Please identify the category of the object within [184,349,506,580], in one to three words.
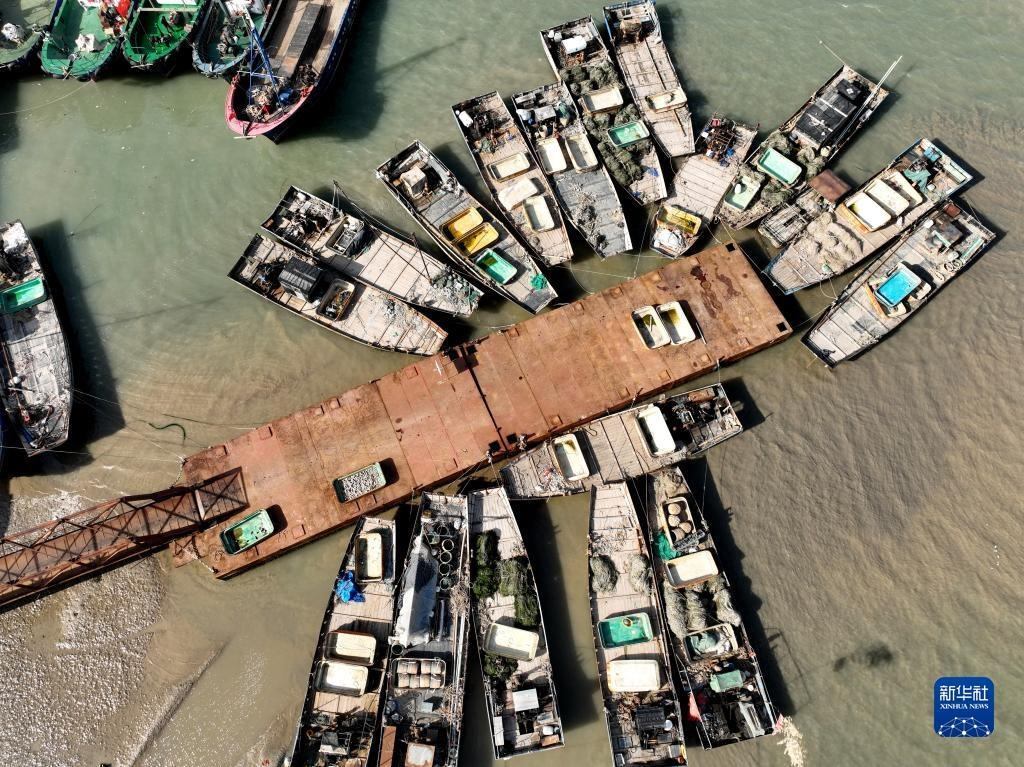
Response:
pier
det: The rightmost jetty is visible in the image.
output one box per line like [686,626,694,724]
[464,241,791,457]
